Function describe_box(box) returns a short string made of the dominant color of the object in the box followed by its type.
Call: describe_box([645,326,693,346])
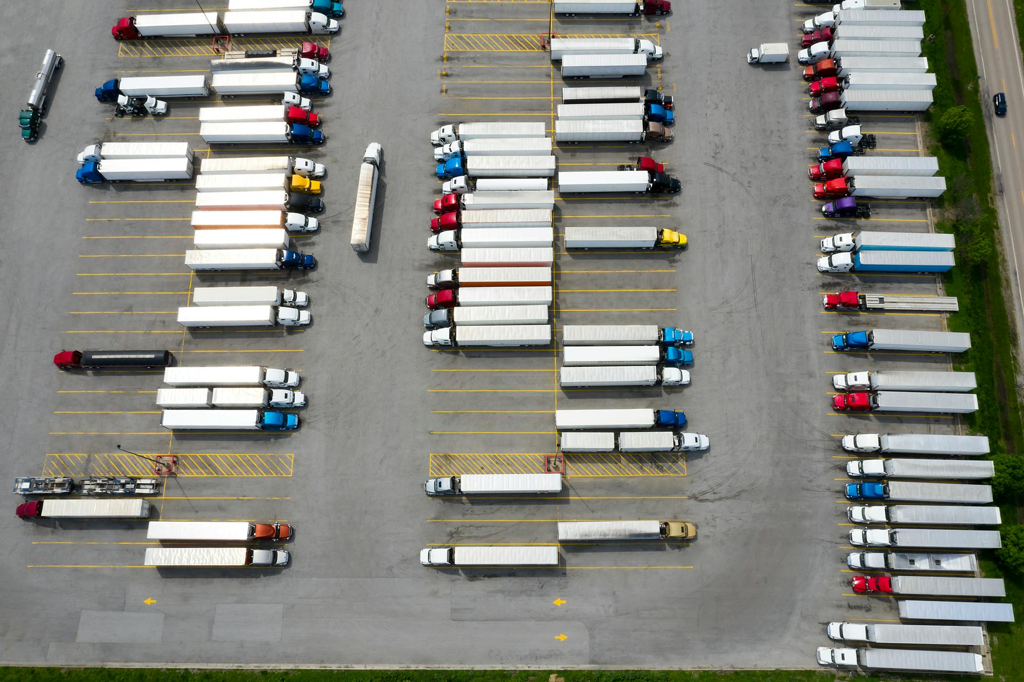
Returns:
blue vehicle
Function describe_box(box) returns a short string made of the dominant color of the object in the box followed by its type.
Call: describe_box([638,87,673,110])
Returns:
black truck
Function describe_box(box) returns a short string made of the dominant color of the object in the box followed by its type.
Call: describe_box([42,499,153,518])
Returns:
white trailer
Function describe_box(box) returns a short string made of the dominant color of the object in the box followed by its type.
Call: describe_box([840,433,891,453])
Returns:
white vehicle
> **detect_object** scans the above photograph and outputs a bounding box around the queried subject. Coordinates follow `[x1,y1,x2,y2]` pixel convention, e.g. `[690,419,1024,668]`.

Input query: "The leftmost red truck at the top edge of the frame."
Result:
[112,17,155,41]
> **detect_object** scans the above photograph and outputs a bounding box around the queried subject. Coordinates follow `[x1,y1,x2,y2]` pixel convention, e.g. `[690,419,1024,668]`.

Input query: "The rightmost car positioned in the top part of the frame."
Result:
[995,92,1010,114]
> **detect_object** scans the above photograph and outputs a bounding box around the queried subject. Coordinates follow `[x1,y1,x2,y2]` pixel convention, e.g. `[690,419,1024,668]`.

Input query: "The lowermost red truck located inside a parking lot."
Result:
[850,574,895,595]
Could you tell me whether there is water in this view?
No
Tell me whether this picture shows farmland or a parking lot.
parking lot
